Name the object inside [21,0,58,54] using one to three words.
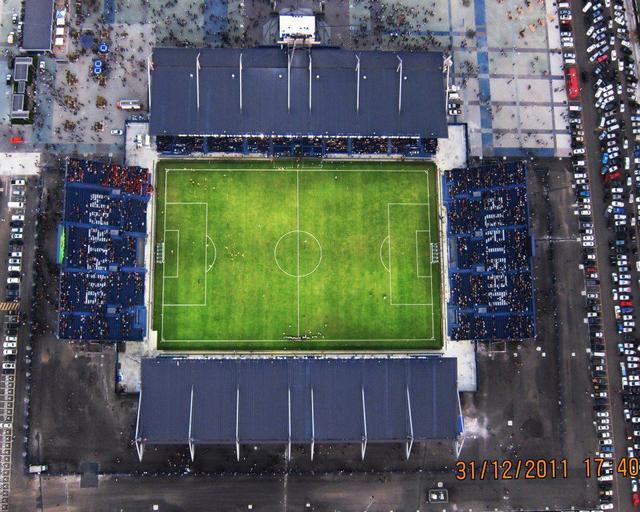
building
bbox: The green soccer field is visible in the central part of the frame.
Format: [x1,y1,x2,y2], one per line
[152,160,442,351]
